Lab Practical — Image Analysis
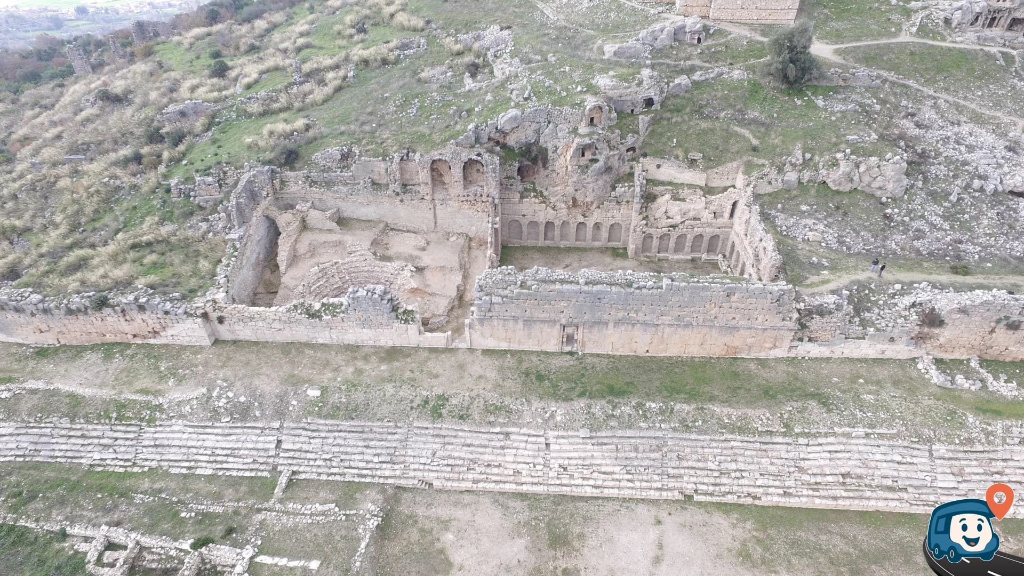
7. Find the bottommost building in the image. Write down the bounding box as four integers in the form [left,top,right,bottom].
[462,147,811,359]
